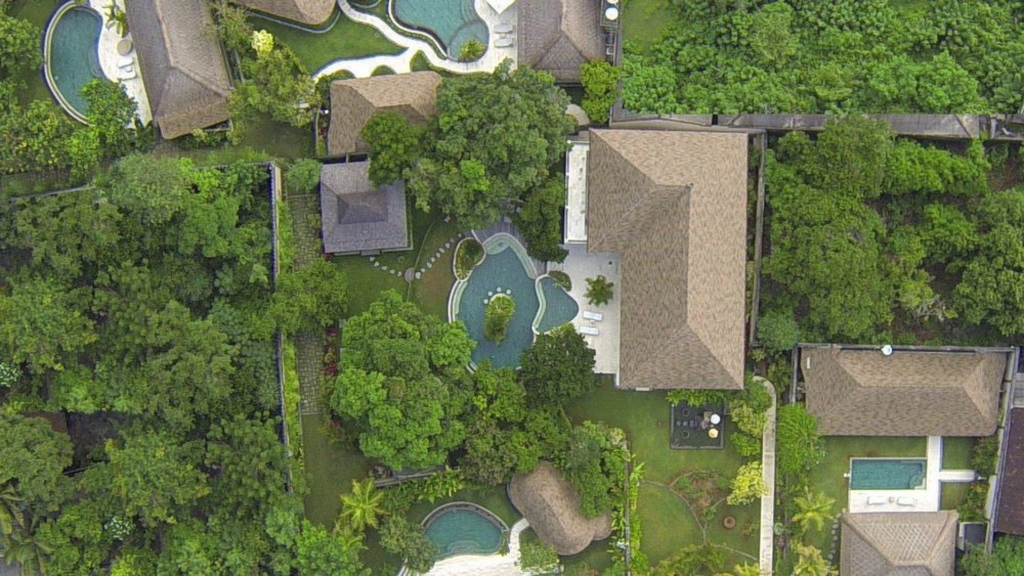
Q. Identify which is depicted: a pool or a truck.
pool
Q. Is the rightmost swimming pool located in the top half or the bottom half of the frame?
bottom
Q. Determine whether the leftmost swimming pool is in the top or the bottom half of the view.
top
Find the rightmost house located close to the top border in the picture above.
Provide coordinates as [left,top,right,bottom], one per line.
[518,0,609,82]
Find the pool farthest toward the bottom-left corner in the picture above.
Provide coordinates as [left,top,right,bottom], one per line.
[421,501,510,564]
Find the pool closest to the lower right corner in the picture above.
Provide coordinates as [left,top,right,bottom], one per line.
[850,458,928,492]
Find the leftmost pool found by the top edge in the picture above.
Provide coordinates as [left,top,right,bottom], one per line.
[41,0,115,126]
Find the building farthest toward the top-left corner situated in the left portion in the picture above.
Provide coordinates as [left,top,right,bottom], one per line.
[127,0,233,138]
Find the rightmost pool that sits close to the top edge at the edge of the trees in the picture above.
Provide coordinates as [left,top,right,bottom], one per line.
[388,0,491,63]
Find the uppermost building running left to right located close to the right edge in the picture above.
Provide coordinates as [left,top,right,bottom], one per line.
[801,348,1006,437]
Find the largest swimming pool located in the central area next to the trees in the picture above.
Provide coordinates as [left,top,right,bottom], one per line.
[448,231,540,372]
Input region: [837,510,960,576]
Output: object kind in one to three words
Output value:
house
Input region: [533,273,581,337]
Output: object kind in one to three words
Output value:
swimming pool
